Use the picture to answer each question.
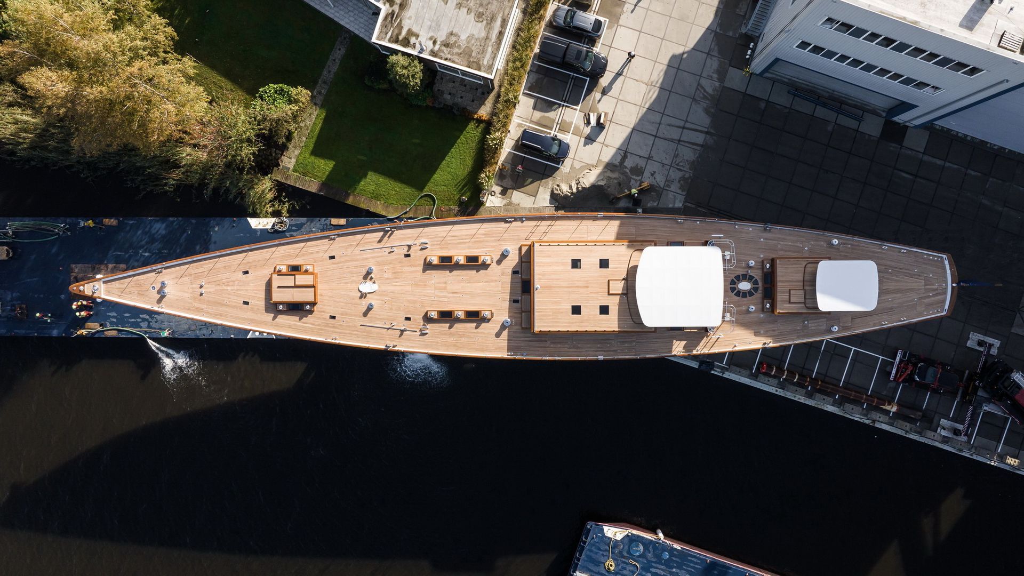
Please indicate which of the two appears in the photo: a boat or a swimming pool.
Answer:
boat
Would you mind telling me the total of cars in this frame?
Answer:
3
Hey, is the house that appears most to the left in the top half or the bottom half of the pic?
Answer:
top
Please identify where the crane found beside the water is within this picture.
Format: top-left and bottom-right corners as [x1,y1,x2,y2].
[900,342,1024,439]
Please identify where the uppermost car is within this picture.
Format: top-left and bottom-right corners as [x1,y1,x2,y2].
[550,3,607,38]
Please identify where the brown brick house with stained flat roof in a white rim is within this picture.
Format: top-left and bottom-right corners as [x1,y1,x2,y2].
[369,0,528,91]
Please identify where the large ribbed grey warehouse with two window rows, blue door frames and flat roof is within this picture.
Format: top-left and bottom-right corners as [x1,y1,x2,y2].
[749,0,1024,153]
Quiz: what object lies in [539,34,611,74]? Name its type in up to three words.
car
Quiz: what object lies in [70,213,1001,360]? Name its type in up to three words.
boat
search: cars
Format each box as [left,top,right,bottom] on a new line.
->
[550,3,607,38]
[539,34,611,74]
[517,127,573,161]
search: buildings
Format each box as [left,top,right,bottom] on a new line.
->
[749,0,1024,153]
[369,0,528,91]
